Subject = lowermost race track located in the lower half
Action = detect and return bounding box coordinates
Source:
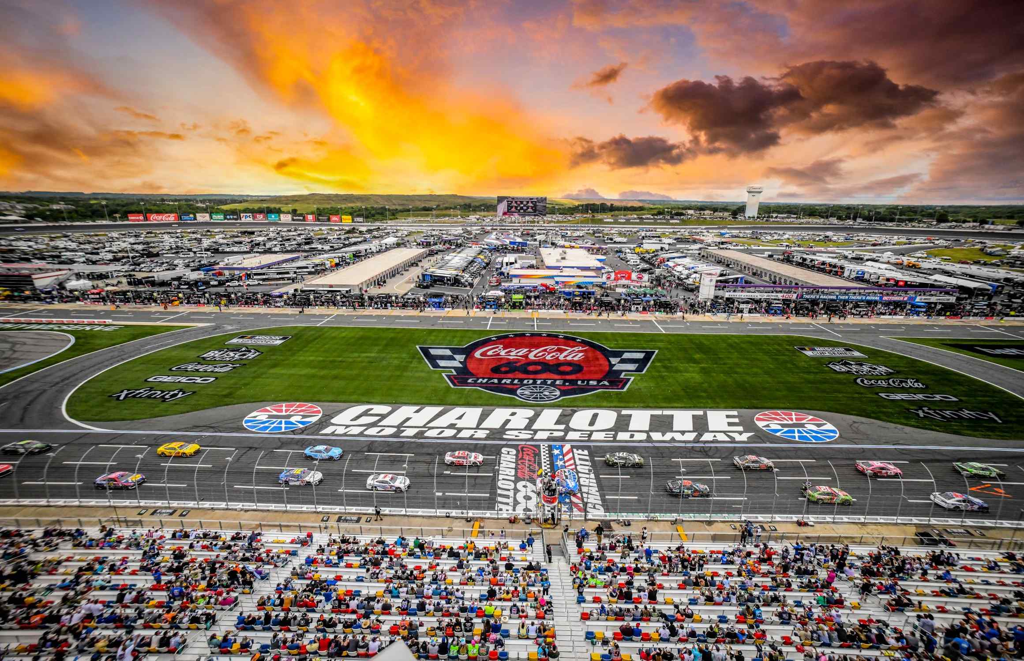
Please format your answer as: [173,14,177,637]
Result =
[0,432,1024,521]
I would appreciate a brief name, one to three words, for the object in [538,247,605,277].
building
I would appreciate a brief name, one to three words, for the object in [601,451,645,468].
car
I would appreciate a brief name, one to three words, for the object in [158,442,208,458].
car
